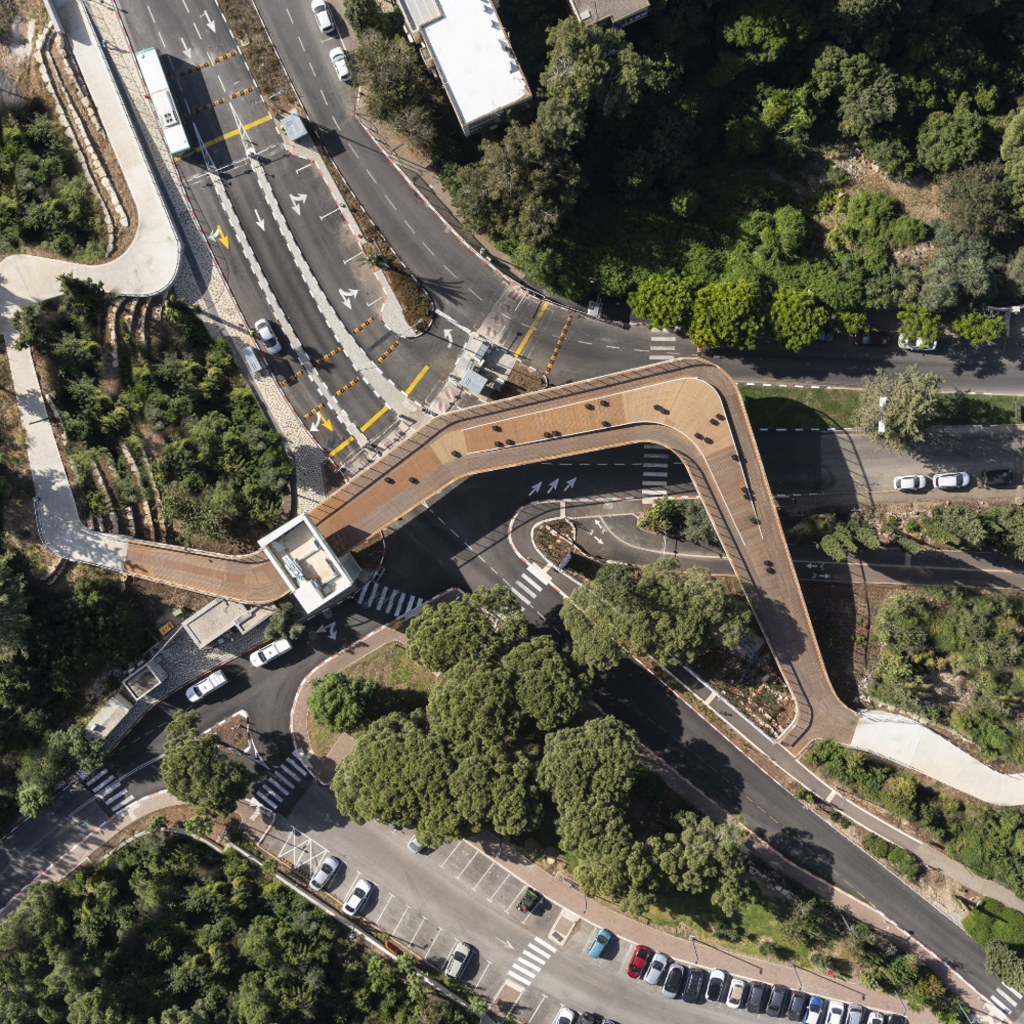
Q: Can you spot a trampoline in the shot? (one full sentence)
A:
No, there appears to be no trampoline in this shot.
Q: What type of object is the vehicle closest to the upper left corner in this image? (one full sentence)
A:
It turns out the vehicle closest to the upper left corner is a bus.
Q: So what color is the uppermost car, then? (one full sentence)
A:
From above, the uppermost car appears white.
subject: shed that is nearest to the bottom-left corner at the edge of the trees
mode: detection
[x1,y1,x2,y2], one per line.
[87,689,141,737]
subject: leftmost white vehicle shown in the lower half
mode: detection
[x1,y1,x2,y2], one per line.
[185,669,230,702]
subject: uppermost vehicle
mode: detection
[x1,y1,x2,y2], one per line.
[311,0,336,38]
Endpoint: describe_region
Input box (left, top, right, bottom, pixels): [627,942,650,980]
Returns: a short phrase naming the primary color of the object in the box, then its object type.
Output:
red car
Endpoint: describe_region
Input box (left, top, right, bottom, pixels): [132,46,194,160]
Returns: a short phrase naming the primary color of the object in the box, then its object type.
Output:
white bus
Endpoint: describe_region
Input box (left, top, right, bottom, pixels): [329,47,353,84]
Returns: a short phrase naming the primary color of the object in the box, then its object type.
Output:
white car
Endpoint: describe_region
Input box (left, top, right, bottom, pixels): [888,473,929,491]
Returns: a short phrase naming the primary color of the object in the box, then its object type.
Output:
white car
